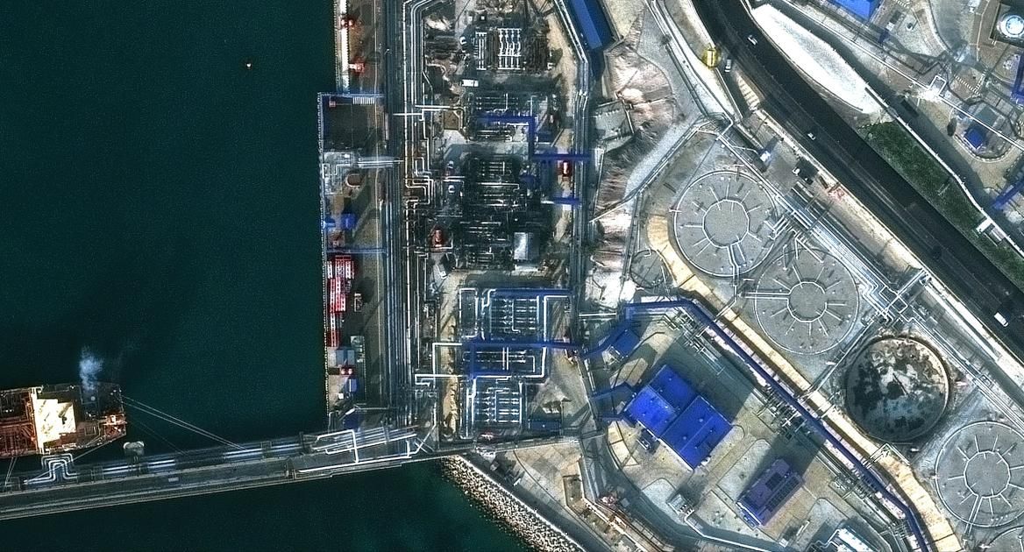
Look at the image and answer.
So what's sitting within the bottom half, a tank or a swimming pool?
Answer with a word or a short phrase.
tank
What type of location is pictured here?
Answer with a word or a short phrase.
port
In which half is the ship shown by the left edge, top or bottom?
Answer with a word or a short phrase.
bottom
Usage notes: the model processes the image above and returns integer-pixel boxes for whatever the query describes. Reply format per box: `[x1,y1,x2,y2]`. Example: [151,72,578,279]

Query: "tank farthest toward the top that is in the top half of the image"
[988,2,1024,48]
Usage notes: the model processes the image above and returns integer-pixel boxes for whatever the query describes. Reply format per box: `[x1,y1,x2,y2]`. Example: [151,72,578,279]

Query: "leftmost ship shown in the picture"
[0,382,128,458]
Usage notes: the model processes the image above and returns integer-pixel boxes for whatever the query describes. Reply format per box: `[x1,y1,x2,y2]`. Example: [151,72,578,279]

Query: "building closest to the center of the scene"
[513,232,539,262]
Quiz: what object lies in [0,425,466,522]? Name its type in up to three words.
pier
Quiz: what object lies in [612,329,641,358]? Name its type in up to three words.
building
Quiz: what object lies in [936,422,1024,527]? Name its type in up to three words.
storage tank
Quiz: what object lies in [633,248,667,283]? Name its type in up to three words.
storage tank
